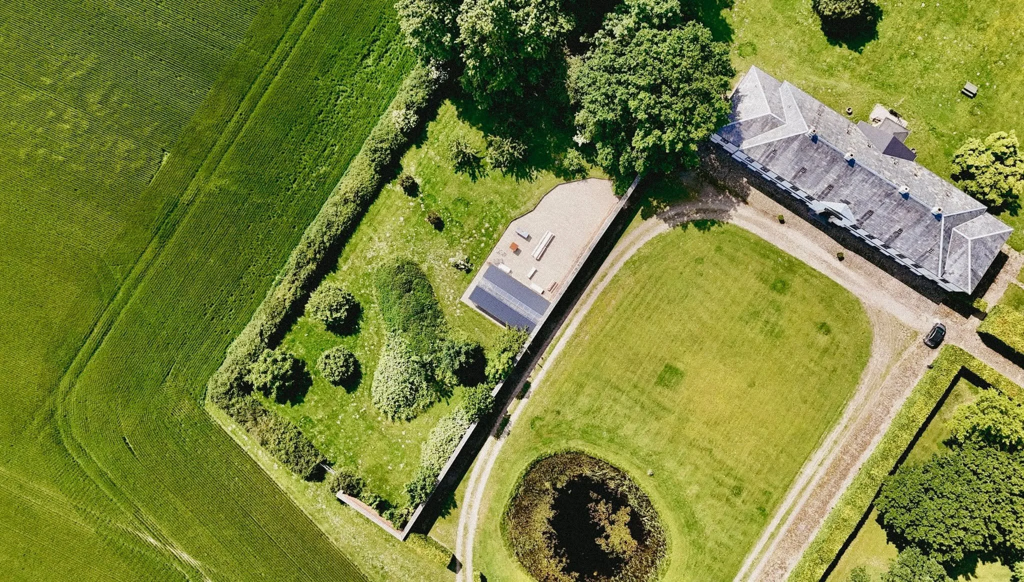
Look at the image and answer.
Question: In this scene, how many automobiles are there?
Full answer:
The photo contains exactly 1 automobile.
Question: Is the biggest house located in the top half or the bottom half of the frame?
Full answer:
It is in the top half that the biggest house appears.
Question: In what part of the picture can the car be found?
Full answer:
You can find the car in the right area of the picture.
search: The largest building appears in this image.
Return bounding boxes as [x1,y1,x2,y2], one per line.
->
[702,65,1012,293]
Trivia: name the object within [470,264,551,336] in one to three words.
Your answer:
shed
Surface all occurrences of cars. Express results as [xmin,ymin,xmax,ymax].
[922,323,947,350]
